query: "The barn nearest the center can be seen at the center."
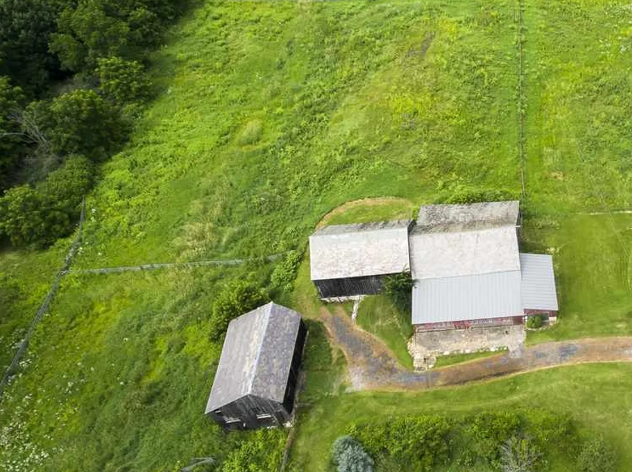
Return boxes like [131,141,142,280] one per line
[310,219,412,303]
